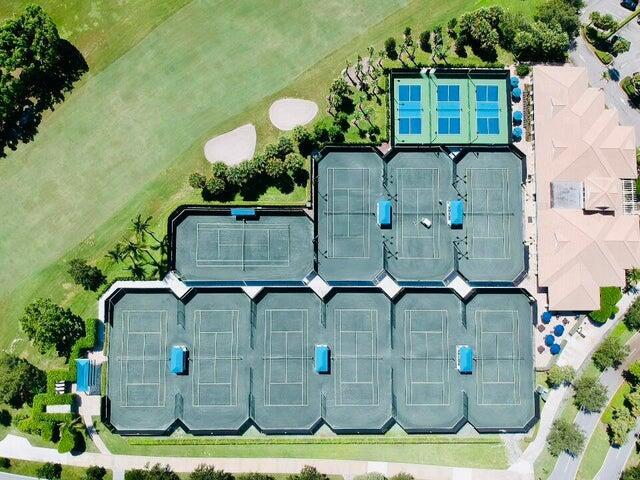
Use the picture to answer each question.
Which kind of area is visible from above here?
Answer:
sports ground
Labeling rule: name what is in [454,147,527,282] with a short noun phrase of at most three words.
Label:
tennis court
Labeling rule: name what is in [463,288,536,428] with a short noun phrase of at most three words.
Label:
tennis court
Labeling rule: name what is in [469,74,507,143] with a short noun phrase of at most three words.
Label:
sports court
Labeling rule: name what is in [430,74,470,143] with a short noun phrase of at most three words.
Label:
sports court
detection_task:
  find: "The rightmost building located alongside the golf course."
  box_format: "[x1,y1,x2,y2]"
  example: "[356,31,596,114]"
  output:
[528,65,640,311]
